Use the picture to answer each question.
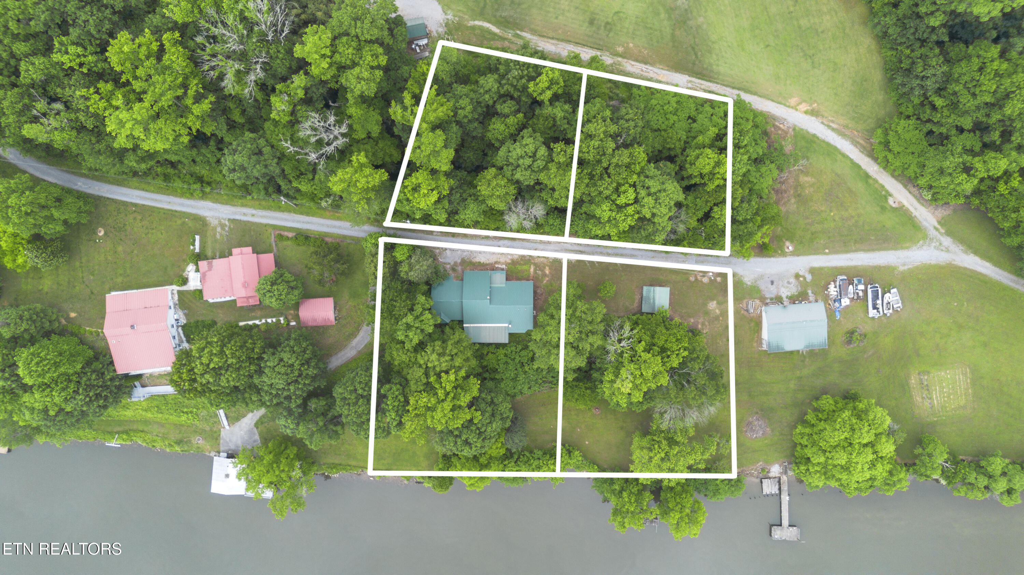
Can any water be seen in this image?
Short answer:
Yes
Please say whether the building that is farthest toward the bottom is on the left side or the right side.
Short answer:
left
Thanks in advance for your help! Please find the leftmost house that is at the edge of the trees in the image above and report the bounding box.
[103,288,176,375]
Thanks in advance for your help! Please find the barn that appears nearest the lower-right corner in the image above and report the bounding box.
[758,302,827,353]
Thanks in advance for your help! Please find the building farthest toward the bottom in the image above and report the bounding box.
[211,456,271,500]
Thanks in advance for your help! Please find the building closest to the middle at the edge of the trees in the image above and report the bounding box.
[431,264,533,343]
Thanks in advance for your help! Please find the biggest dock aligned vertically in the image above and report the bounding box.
[770,463,800,542]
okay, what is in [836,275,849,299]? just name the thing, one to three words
vehicle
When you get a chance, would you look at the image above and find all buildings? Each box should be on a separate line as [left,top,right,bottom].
[211,456,271,500]
[409,16,428,41]
[641,286,670,313]
[431,264,533,343]
[103,288,176,375]
[758,302,827,353]
[199,247,277,306]
[299,297,336,326]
